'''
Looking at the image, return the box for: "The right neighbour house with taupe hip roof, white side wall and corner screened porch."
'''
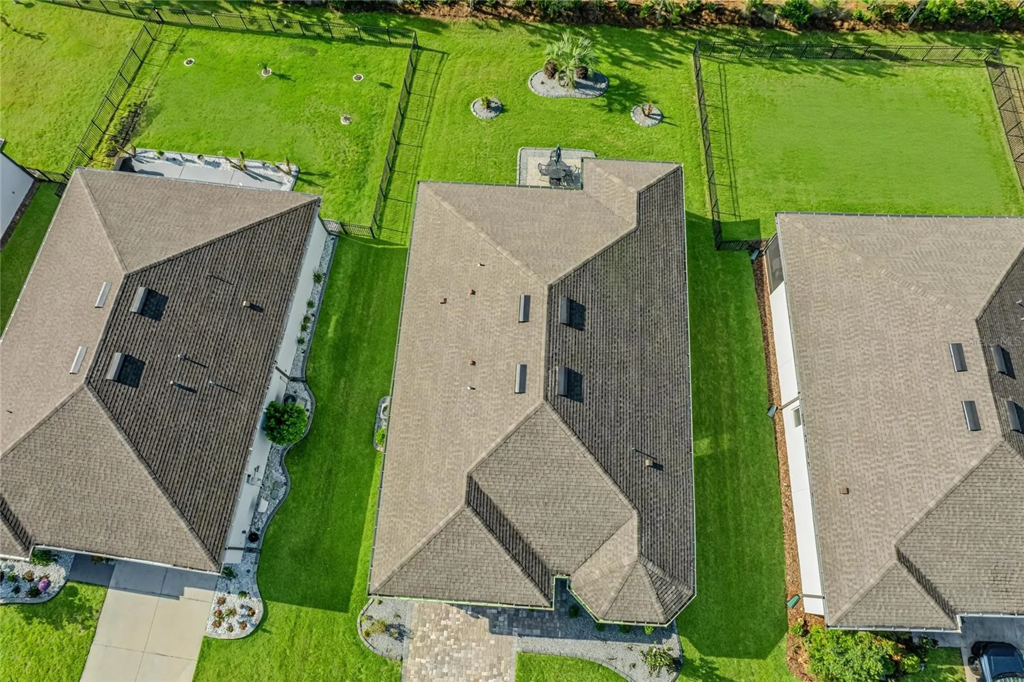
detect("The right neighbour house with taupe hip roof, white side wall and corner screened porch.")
[757,213,1024,633]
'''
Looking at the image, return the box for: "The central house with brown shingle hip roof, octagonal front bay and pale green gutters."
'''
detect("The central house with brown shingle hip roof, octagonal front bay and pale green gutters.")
[367,158,697,626]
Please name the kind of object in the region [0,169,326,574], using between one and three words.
house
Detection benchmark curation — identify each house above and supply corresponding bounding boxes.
[0,169,326,574]
[367,158,697,626]
[757,213,1024,633]
[0,141,34,242]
